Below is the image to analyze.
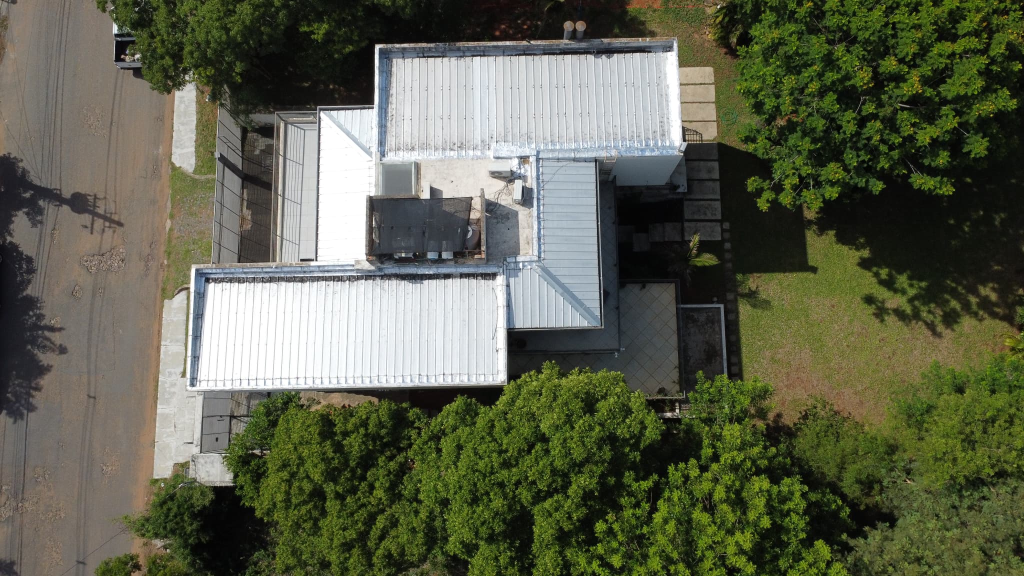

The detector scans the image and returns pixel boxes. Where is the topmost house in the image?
[187,38,684,390]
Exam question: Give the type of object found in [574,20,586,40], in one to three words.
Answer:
chimney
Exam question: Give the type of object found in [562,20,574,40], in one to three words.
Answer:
chimney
